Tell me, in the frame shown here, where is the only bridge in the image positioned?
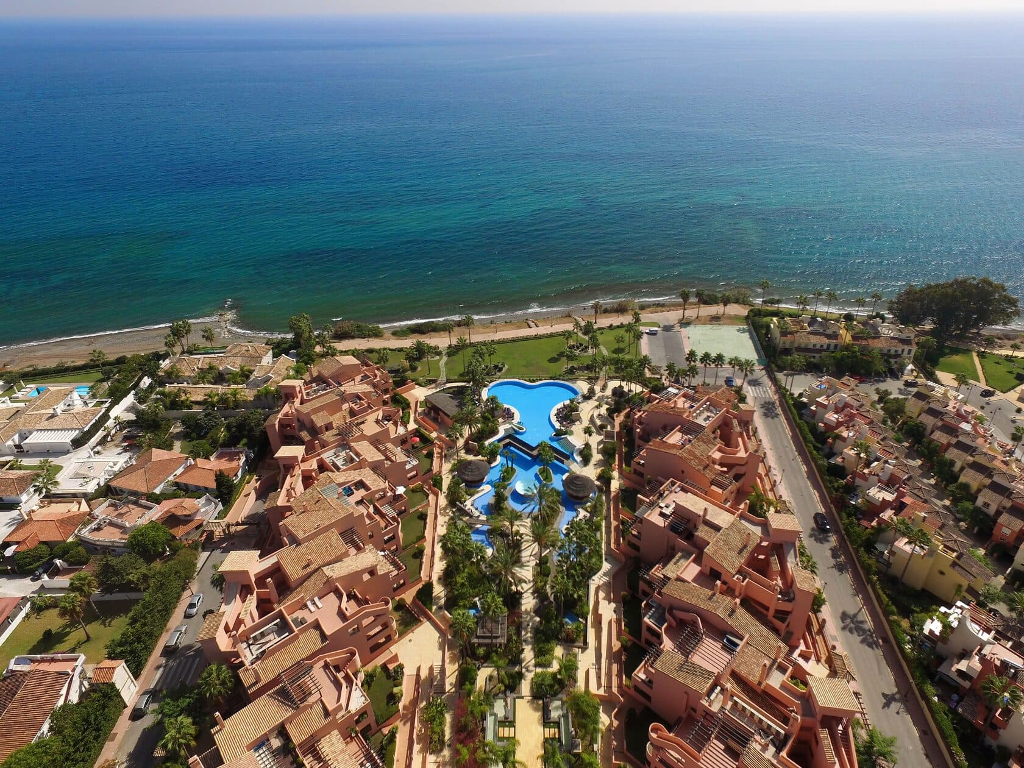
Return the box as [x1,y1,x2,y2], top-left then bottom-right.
[494,432,584,472]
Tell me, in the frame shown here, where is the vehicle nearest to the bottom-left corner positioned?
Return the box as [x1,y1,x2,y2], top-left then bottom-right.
[128,692,154,720]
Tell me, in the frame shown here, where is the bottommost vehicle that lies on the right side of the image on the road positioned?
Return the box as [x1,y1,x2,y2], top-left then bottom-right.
[814,514,831,532]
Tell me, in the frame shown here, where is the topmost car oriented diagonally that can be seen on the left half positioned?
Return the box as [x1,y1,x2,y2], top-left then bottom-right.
[28,559,55,579]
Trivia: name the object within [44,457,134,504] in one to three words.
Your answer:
house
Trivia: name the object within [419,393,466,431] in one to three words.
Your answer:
building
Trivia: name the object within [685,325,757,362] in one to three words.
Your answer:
sports court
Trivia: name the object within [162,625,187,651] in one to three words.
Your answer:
car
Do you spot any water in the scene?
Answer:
Yes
